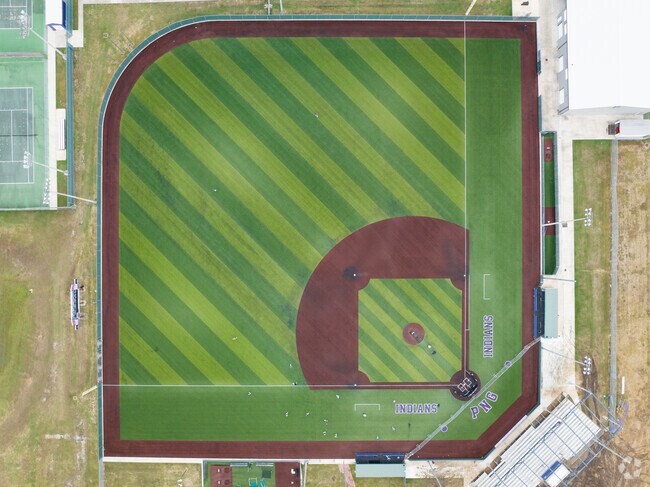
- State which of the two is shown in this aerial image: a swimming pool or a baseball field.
baseball field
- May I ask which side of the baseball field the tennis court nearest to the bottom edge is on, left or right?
on the left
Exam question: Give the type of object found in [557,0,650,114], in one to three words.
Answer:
building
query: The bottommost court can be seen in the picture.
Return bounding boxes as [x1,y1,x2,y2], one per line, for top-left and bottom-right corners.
[0,87,36,183]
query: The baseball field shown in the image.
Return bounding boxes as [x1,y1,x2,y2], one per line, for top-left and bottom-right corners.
[102,20,541,459]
